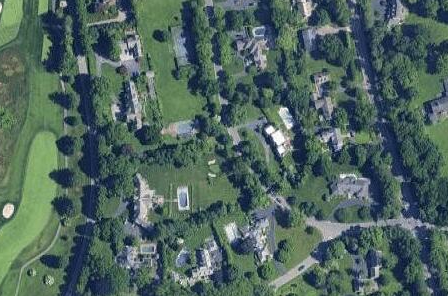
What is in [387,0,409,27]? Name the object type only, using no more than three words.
house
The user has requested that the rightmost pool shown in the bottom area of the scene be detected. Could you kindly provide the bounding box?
[224,223,239,243]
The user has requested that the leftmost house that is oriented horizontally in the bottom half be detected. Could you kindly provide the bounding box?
[113,248,153,268]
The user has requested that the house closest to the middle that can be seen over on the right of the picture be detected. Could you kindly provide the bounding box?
[261,123,292,155]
